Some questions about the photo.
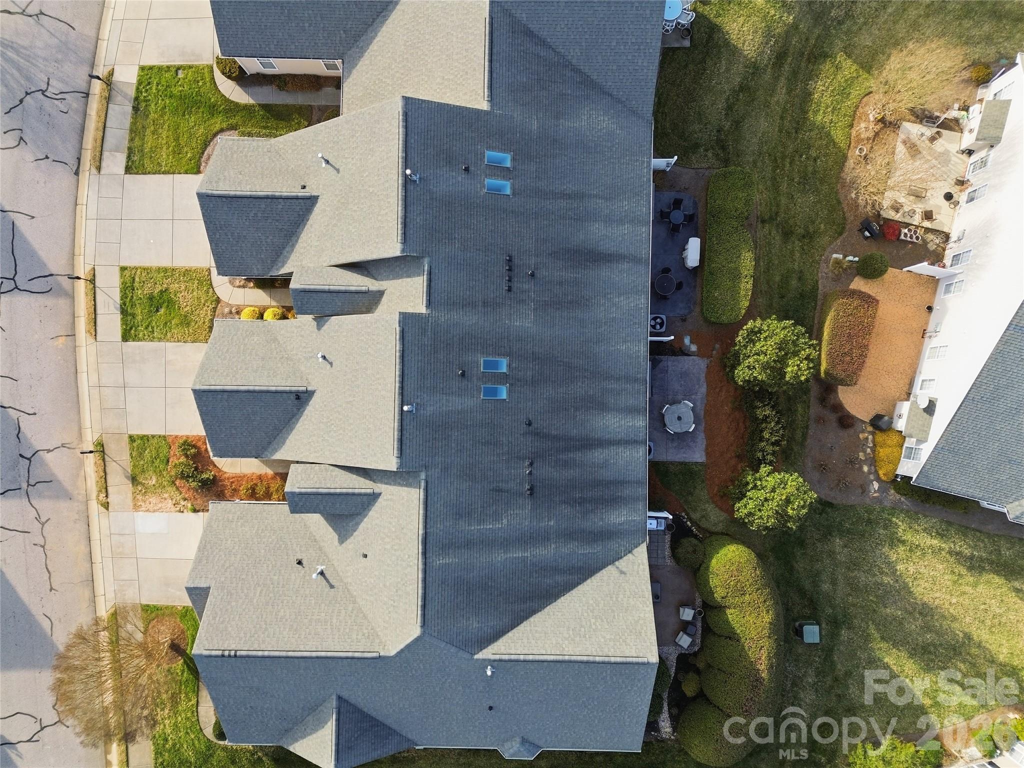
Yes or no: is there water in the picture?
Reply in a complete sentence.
No, no water is visible.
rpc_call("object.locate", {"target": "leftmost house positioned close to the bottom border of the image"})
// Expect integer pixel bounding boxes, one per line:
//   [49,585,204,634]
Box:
[186,461,660,768]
